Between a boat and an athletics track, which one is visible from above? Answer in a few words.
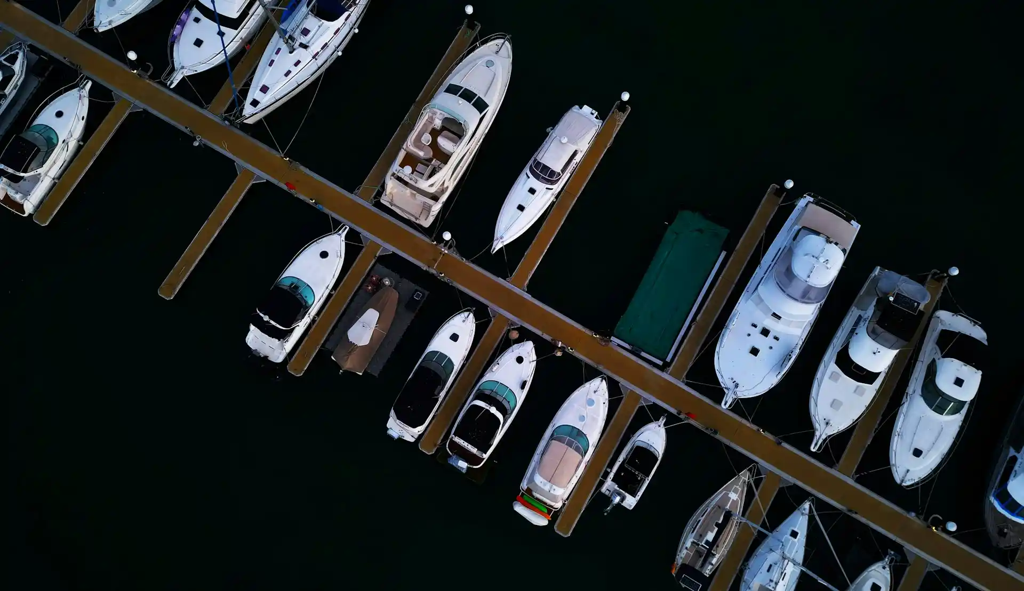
boat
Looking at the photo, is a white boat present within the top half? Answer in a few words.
Yes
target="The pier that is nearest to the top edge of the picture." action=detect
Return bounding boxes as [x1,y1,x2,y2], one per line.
[60,0,96,36]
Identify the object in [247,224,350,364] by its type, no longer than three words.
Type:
boat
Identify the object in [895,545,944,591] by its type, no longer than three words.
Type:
pier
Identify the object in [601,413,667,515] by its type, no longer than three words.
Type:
boat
